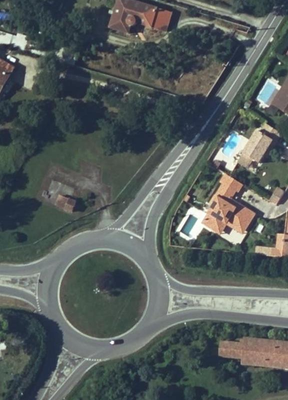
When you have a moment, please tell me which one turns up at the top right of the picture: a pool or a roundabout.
pool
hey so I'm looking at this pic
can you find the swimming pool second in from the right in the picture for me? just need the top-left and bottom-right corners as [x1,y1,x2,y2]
[213,132,248,171]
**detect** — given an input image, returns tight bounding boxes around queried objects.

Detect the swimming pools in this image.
[256,78,279,108]
[176,207,206,240]
[213,132,248,171]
